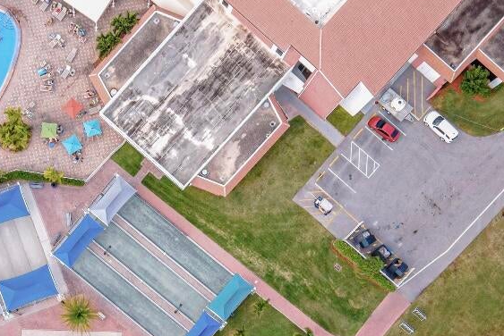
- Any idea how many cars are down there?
two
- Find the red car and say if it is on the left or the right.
right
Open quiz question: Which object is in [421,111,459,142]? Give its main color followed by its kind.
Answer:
white car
